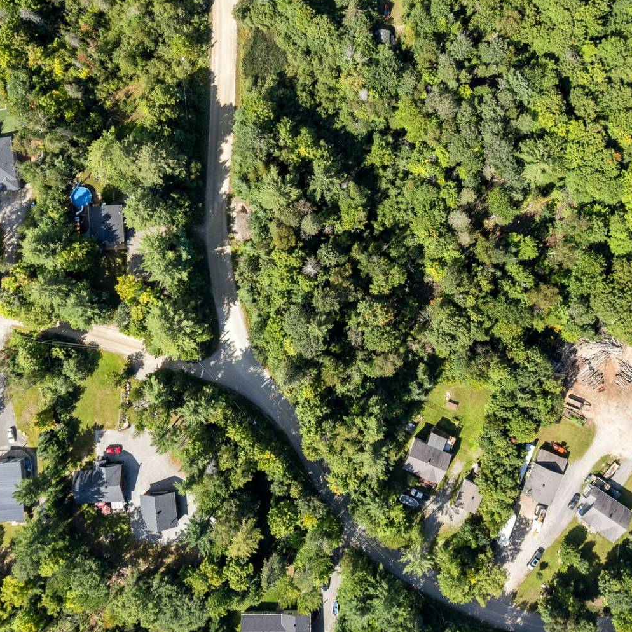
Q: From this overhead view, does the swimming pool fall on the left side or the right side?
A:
left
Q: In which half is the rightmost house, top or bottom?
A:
bottom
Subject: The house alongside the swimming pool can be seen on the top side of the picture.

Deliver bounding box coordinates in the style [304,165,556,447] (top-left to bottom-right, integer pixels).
[80,204,126,250]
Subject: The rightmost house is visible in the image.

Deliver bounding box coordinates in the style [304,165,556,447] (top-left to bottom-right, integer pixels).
[580,478,632,543]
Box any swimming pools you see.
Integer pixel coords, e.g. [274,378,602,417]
[69,186,91,206]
